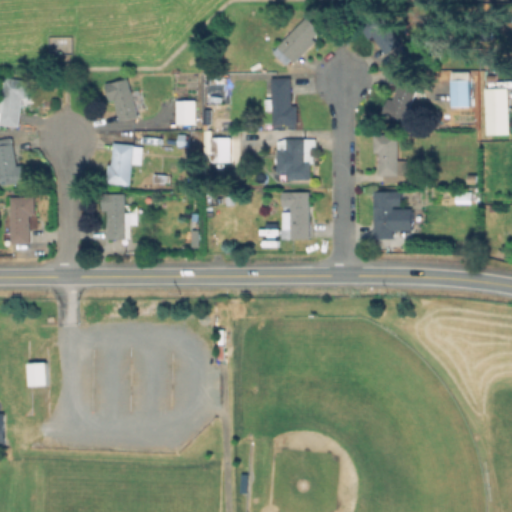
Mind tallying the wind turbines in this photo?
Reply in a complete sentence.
The photo contains no wind turbines.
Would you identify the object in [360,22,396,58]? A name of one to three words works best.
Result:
house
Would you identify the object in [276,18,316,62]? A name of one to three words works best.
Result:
house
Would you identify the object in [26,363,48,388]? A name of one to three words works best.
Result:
building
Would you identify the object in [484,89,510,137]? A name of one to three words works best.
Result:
barn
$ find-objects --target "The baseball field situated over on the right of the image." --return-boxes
[241,317,486,512]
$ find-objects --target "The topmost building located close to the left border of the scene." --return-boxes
[0,79,28,127]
